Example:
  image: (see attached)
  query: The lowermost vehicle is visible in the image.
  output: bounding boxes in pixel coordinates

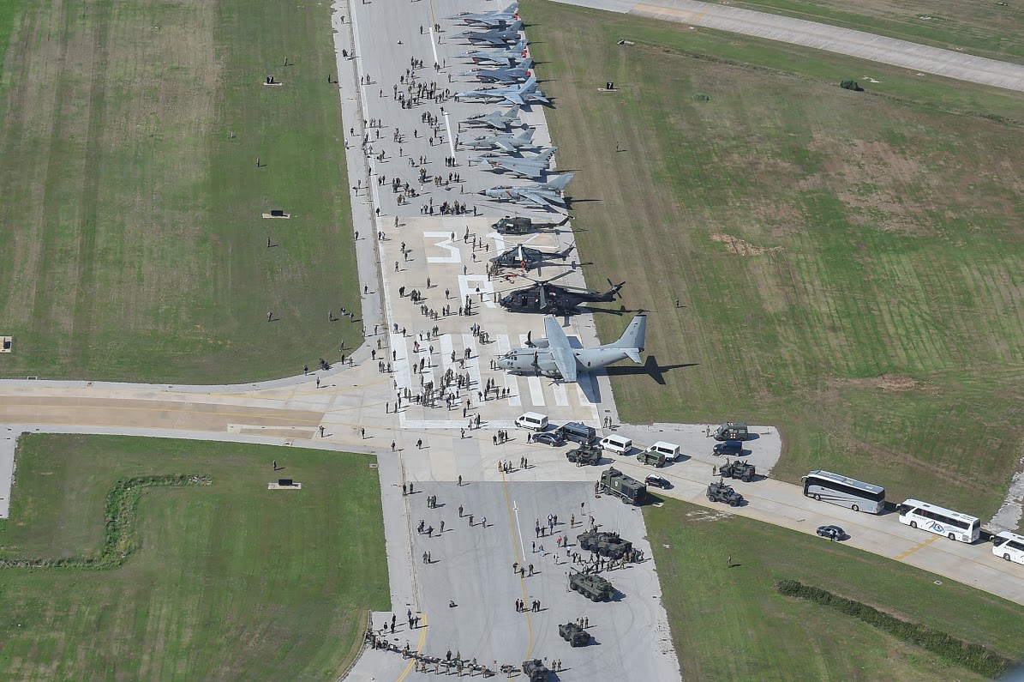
[524,655,551,682]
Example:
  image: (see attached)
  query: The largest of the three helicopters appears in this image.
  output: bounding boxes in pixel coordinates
[488,270,626,315]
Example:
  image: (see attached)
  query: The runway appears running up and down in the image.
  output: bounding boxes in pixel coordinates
[353,0,665,682]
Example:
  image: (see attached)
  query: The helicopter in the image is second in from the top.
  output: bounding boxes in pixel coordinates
[485,235,578,271]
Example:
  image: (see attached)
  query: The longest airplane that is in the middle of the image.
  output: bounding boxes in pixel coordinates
[497,314,646,381]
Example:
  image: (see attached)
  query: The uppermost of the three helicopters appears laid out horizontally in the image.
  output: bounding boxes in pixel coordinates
[478,207,575,235]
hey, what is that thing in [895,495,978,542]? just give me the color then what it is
white bus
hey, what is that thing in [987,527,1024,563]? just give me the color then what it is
white bus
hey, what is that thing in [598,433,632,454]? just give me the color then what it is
white vehicle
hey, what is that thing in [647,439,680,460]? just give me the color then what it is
white vehicle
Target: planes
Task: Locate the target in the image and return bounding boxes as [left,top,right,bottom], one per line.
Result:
[447,1,517,27]
[475,169,575,204]
[457,125,532,151]
[469,145,555,176]
[451,19,522,46]
[450,38,527,66]
[456,102,519,129]
[497,314,646,381]
[459,57,531,84]
[455,74,549,105]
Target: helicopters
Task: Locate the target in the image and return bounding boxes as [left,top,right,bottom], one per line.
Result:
[478,207,575,235]
[485,235,578,271]
[488,270,626,315]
